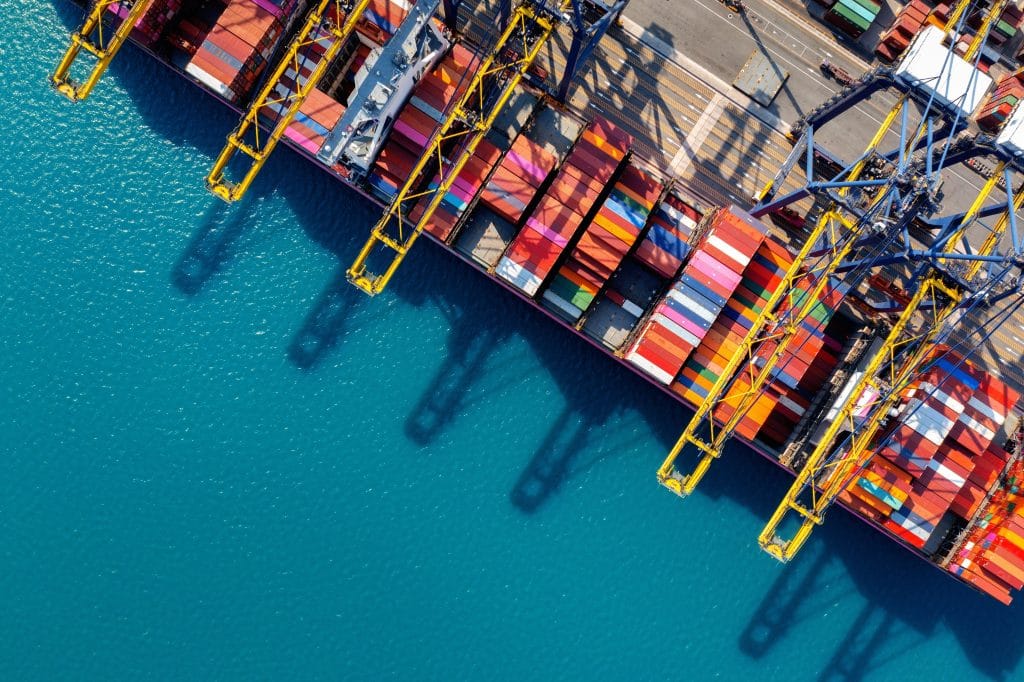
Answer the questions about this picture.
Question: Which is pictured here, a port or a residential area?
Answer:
port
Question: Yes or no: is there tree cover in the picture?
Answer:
No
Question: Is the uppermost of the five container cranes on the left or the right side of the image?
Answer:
left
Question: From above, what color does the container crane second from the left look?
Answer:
yellow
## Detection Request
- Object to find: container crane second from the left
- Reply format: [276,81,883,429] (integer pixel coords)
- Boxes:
[204,0,368,198]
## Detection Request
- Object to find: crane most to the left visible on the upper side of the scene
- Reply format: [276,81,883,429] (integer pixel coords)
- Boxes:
[49,0,148,98]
